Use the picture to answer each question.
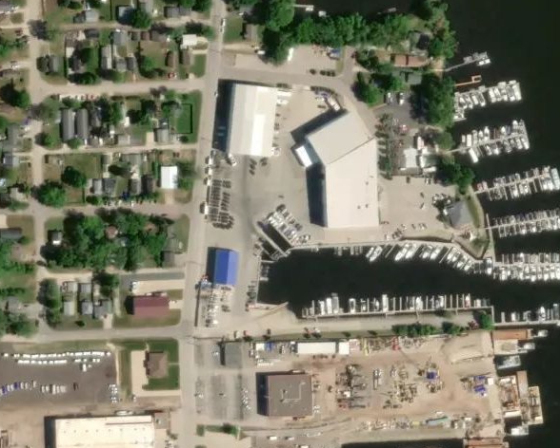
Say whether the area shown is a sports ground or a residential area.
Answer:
residential area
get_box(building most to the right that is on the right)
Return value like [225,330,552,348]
[447,202,473,226]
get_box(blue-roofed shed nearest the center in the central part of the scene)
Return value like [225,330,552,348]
[213,250,239,285]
